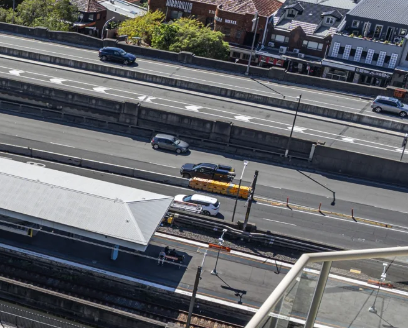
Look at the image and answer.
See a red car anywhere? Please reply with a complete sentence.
No, there appears to be no red car in this shot.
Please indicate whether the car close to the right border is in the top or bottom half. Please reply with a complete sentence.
Seen from above, the car close to the right border lies in the top half of the view.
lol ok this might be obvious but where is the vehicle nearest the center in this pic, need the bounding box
[183,161,237,184]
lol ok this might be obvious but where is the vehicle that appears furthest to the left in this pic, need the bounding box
[98,47,137,66]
